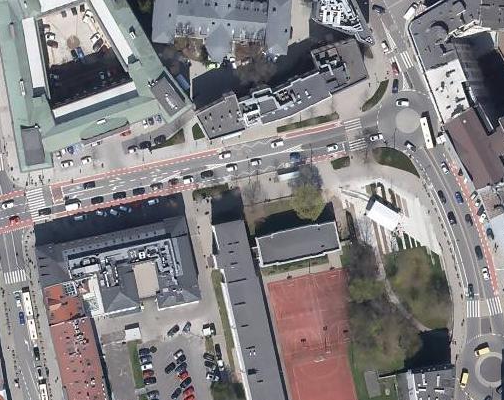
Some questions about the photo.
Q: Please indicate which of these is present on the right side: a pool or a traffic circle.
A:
traffic circle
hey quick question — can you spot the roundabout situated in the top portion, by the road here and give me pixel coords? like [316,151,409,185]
[378,91,436,150]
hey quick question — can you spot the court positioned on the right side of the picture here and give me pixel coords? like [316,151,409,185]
[267,270,359,400]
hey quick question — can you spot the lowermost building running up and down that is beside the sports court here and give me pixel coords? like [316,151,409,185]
[212,219,291,400]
